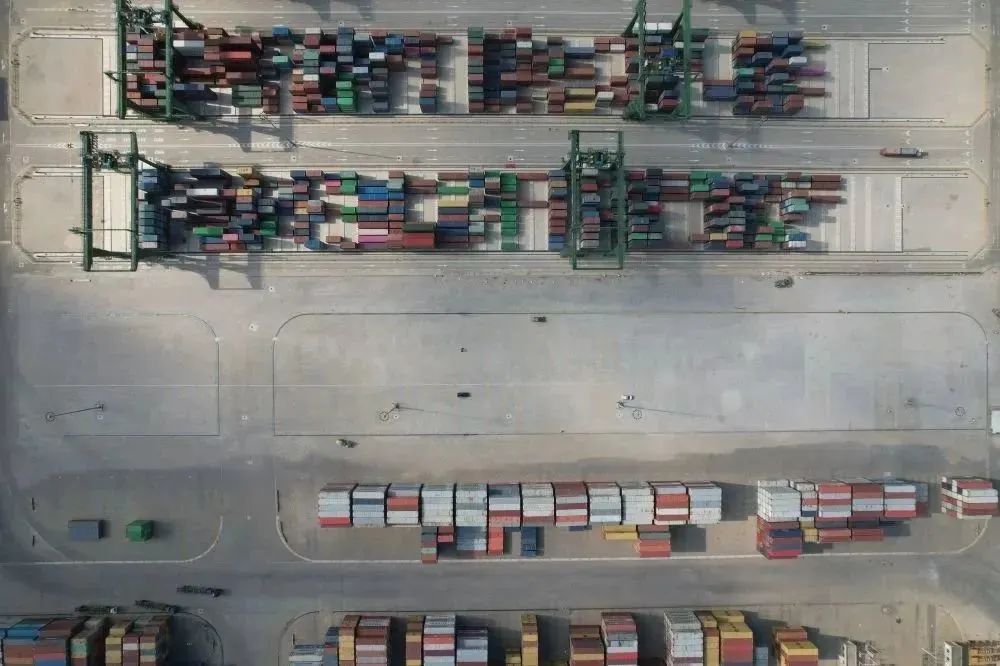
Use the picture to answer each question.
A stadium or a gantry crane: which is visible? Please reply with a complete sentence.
The one in the frame is a gantry crane.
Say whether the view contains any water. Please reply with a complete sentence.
No, no water is visible.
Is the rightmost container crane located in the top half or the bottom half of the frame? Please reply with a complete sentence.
The rightmost container crane is in the top half of the image.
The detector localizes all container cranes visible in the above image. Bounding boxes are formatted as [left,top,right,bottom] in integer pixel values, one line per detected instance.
[96,0,206,123]
[619,0,694,123]
[63,131,174,272]
[554,131,629,270]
